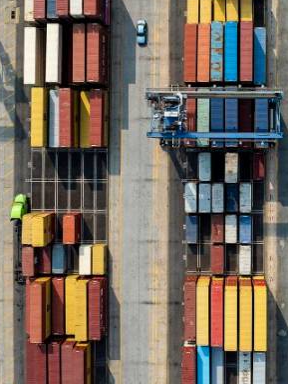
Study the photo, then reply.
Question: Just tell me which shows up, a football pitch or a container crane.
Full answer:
Looking from above, you can make out a container crane.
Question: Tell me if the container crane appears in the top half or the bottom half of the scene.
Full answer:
The container crane sits in the top half of the picture.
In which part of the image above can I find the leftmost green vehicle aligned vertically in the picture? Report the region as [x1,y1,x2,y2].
[9,193,27,281]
